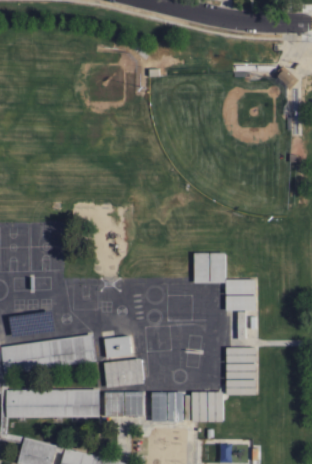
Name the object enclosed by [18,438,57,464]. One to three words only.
building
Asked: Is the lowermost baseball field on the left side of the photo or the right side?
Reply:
right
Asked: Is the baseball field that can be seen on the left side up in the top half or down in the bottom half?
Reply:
top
